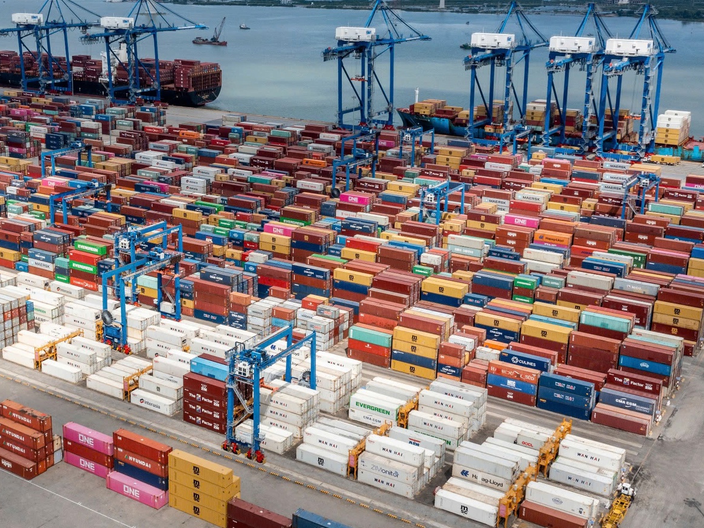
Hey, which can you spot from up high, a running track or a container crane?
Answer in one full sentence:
Of the two, only a container crane appears.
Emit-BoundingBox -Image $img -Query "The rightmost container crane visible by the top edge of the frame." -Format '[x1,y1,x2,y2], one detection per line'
[592,1,680,167]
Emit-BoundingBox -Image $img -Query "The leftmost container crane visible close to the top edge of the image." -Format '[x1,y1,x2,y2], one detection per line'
[0,0,101,95]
